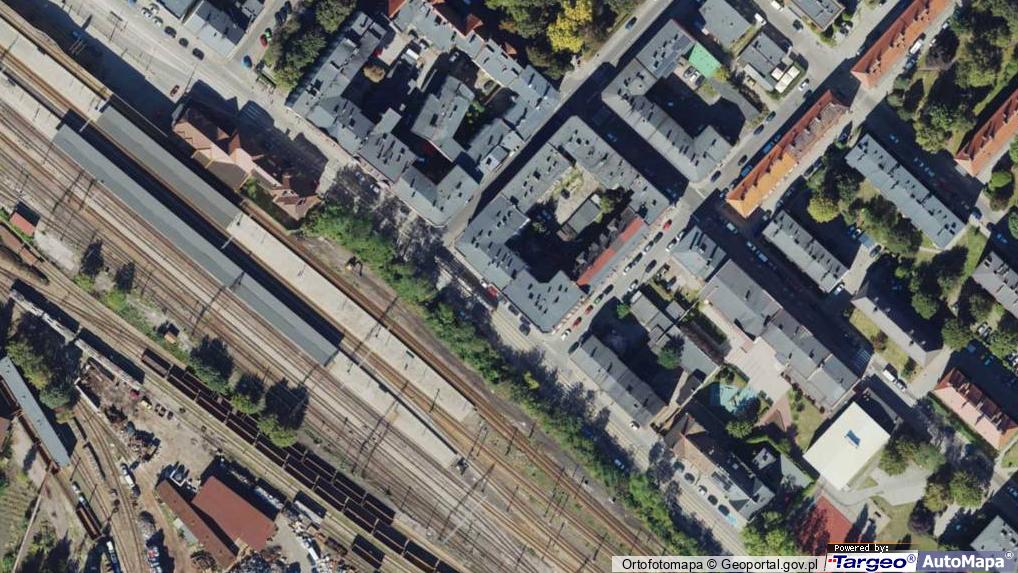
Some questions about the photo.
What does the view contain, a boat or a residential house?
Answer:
residential house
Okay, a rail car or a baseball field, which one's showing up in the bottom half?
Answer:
rail car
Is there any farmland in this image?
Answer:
No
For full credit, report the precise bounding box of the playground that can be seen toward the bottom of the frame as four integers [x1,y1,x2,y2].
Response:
[712,385,759,418]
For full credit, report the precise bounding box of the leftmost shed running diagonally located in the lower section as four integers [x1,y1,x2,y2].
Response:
[0,355,71,470]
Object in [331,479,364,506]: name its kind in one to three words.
rail car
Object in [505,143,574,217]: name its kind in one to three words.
house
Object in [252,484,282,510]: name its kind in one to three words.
rail car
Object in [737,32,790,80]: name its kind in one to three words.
building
